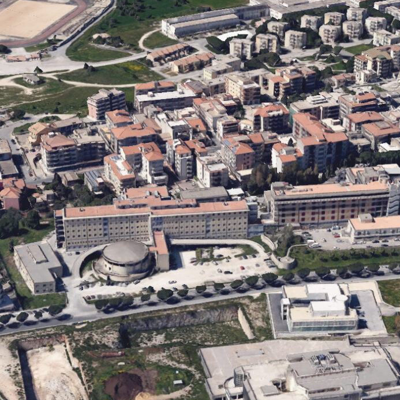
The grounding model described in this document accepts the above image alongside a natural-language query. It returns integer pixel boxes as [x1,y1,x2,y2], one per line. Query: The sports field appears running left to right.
[0,0,78,38]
